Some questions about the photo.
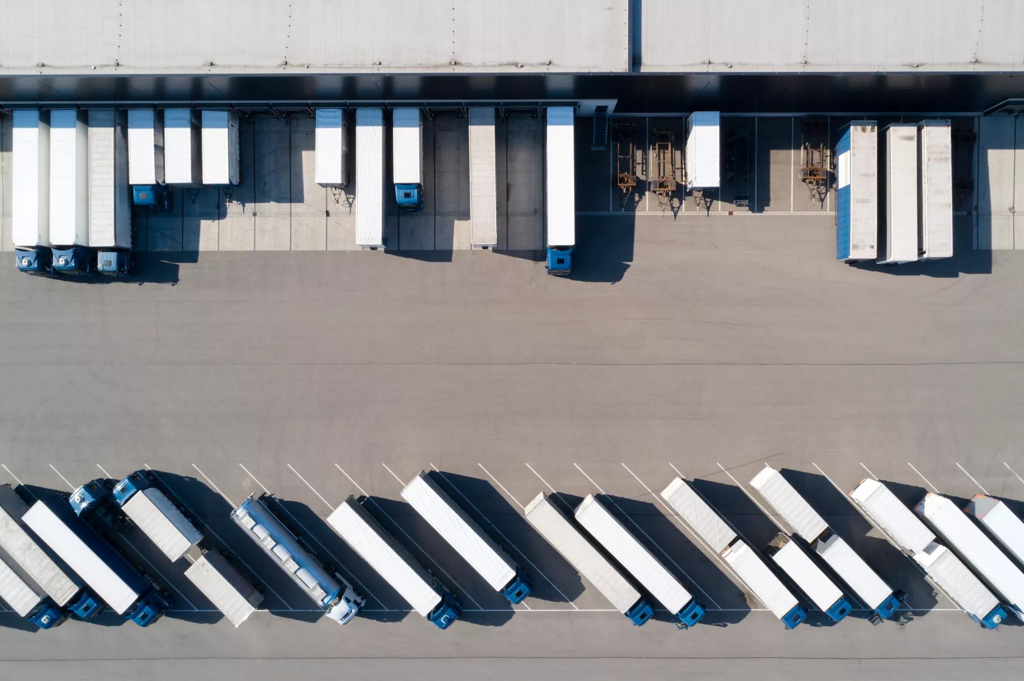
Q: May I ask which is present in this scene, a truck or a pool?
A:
truck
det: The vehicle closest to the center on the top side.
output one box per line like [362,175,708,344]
[546,245,575,277]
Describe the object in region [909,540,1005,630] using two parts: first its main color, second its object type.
white truck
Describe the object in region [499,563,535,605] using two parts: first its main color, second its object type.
blue truck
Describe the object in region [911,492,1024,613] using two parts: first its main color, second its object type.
white trailer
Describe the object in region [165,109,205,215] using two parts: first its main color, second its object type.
white trailer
